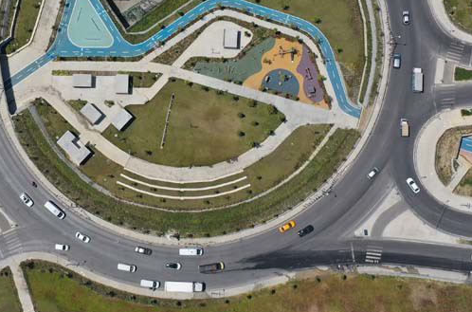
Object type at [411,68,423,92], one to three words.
vehicle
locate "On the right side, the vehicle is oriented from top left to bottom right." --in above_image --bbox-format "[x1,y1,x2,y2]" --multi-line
[406,178,419,193]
